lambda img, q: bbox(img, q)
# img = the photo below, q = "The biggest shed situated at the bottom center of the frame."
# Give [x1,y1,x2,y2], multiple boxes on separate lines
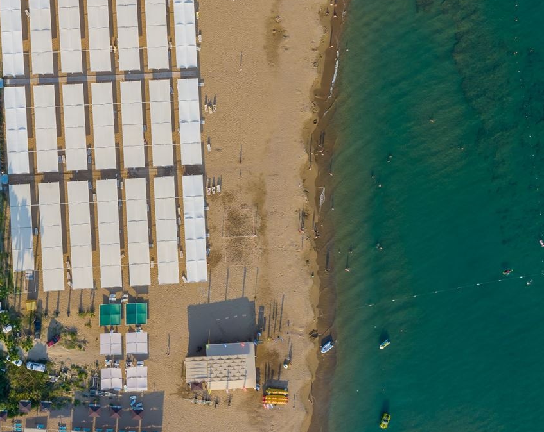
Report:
[184,341,256,390]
